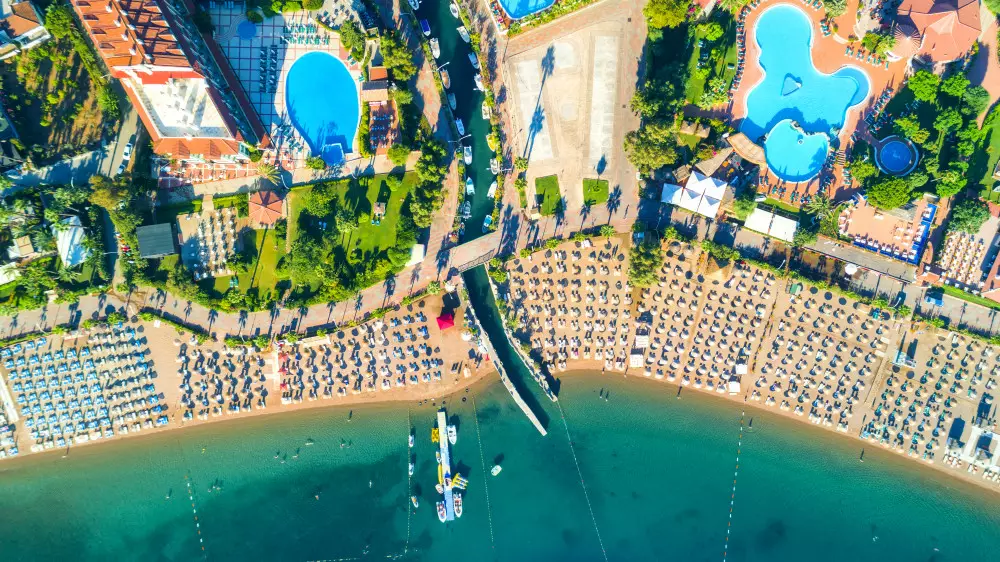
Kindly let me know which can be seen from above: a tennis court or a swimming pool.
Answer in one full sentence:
Looking from above, you can make out a swimming pool.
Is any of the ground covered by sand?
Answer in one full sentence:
Yes, the picture does contain sand.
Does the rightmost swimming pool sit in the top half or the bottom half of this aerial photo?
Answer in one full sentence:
It is in the top half that the rightmost swimming pool appears.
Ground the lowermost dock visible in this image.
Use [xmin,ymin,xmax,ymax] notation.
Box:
[437,411,457,520]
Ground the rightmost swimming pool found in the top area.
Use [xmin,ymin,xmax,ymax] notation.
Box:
[874,134,919,177]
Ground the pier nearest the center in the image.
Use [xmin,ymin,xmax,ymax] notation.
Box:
[460,272,547,436]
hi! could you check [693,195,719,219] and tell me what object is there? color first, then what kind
white tent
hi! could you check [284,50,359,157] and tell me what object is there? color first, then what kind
blue swimming pool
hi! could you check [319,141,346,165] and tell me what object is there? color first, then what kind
blue swimming pool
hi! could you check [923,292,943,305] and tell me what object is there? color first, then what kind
blue vehicle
